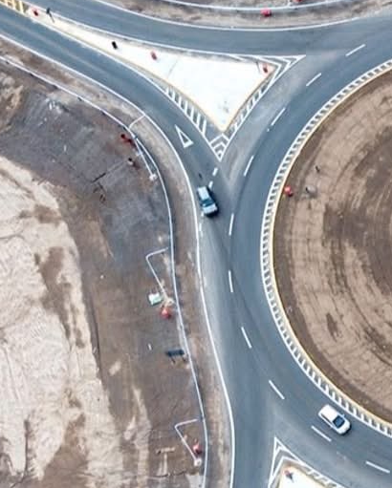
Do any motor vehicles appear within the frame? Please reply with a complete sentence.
Yes, there is a motor vehicle in the image.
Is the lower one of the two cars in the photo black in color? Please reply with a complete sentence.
No, the color of the lower one of the two cars is white.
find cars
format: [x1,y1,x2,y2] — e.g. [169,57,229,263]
[318,403,349,433]
[197,186,218,217]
